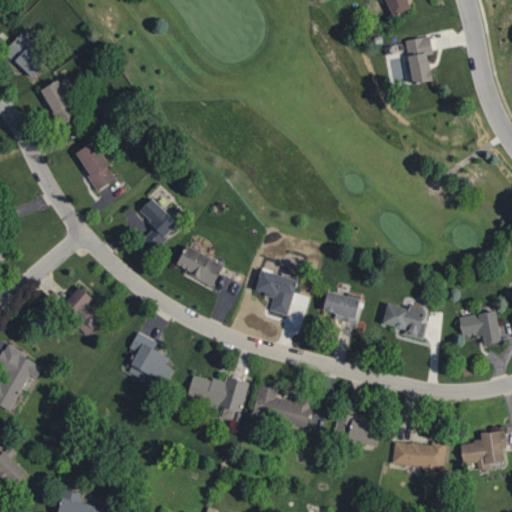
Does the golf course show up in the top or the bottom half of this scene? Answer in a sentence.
The top half of the photo is where the golf course is.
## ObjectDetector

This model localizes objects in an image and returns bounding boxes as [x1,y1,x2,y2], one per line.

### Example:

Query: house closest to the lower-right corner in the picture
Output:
[460,432,508,471]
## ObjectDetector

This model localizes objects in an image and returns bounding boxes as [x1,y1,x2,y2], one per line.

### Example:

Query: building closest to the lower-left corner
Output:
[0,445,30,484]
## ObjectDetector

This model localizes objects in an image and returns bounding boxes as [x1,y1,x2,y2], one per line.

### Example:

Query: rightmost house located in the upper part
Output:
[406,36,434,84]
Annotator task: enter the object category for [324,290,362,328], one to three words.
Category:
house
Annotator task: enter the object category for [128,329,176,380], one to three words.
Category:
house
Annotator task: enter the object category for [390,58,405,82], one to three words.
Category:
swimming pool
